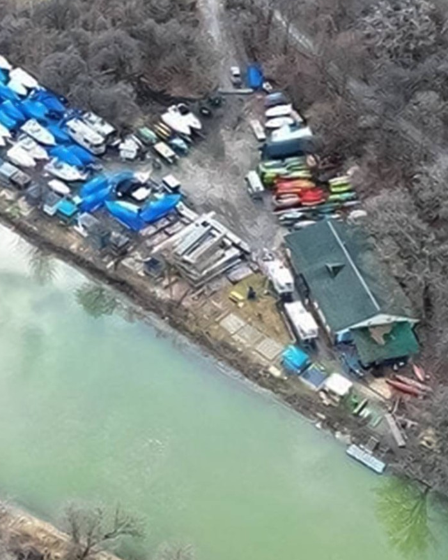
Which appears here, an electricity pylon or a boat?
boat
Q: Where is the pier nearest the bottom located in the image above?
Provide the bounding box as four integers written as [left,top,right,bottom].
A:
[345,444,387,475]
